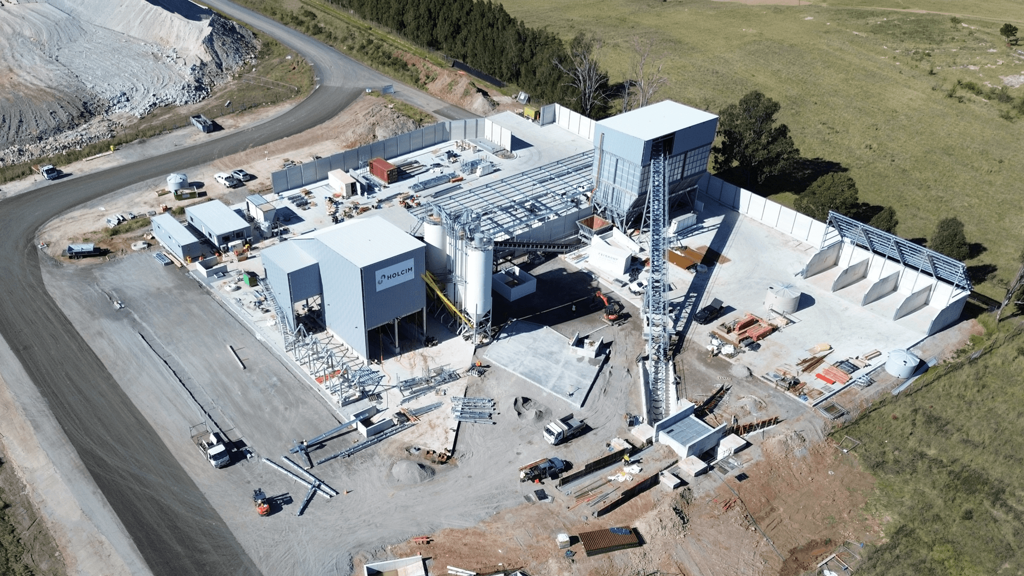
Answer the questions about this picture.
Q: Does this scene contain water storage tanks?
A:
Yes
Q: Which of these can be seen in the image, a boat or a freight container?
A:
freight container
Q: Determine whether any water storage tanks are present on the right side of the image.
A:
Yes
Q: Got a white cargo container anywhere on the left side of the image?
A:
Yes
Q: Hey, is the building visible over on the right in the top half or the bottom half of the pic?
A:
top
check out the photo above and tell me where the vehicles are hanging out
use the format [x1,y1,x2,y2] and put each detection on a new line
[229,167,252,180]
[212,171,239,186]
[691,292,722,323]
[542,413,591,444]
[252,478,269,516]
[423,336,439,348]
[522,457,570,486]
[193,418,228,464]
[602,290,623,326]
[625,275,655,293]
[33,160,56,179]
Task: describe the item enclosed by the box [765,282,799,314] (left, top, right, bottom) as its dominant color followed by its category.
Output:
white water tank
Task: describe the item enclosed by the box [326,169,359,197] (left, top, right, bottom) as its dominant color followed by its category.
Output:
white shipping container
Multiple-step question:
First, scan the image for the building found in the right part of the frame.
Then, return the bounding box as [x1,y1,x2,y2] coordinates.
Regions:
[592,98,718,223]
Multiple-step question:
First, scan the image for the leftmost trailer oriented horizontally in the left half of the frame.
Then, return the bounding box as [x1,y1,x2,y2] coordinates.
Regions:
[57,239,116,257]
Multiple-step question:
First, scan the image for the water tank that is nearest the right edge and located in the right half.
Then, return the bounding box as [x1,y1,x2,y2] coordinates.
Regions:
[884,346,923,381]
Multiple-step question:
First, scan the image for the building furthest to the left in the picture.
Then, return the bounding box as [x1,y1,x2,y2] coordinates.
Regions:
[150,213,203,261]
